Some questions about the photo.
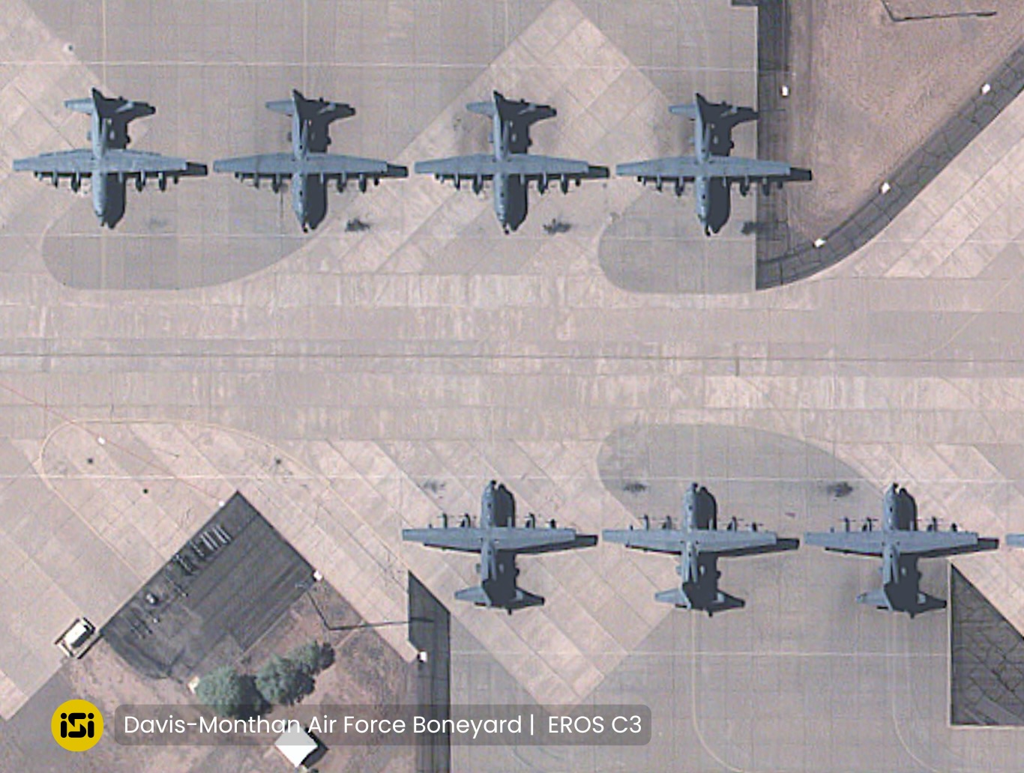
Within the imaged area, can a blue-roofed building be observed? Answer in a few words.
No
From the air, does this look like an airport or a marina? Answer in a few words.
airport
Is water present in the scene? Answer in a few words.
No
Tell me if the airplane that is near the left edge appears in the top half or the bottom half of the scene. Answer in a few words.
top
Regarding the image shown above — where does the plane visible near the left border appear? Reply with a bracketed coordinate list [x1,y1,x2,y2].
[11,87,185,225]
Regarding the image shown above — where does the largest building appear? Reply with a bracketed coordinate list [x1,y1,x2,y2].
[273,723,317,768]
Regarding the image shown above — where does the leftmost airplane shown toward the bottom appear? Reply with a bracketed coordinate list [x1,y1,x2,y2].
[402,480,576,610]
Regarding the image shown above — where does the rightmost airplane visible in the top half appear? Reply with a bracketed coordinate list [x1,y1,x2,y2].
[615,92,789,235]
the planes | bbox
[11,87,185,225]
[804,484,978,614]
[212,88,386,232]
[414,89,588,233]
[402,480,576,610]
[602,482,776,611]
[1006,535,1024,548]
[615,92,789,235]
